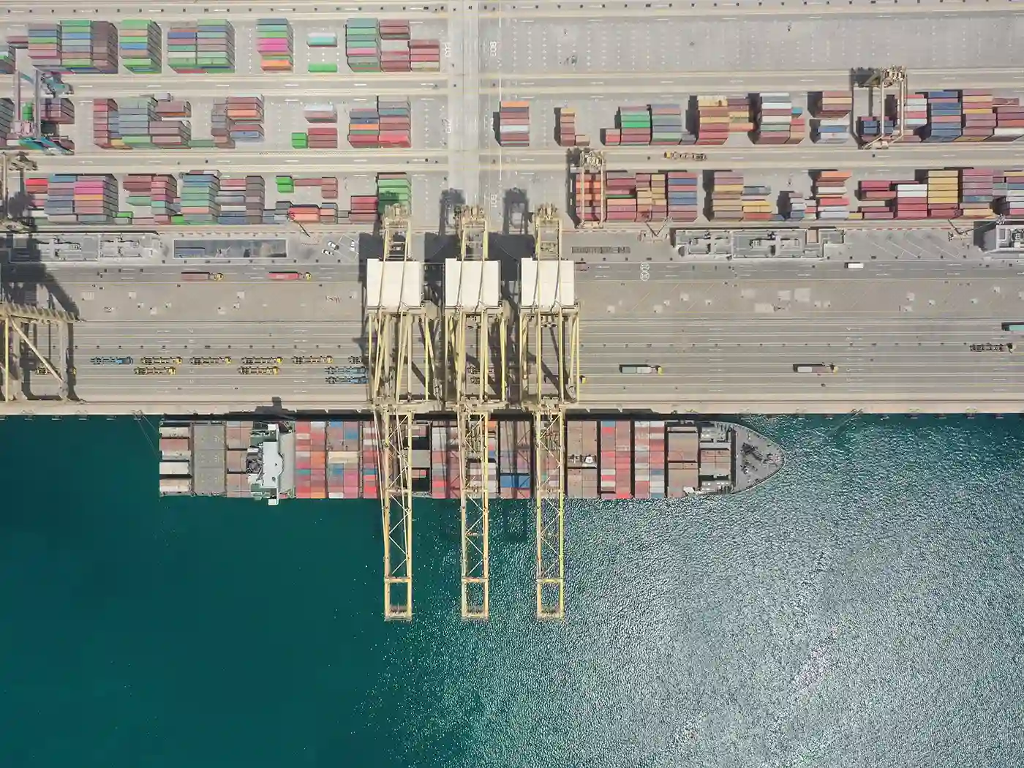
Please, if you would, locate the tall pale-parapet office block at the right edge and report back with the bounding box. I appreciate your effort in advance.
[985,225,1024,253]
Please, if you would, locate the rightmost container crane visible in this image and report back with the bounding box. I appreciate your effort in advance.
[859,67,905,150]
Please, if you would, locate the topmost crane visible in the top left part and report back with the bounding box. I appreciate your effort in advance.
[14,74,68,153]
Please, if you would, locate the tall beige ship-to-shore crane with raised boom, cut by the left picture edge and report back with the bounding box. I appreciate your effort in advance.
[0,308,91,413]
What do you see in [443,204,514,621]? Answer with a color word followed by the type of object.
white container crane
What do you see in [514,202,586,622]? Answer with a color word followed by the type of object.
white container crane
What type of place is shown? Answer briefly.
port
